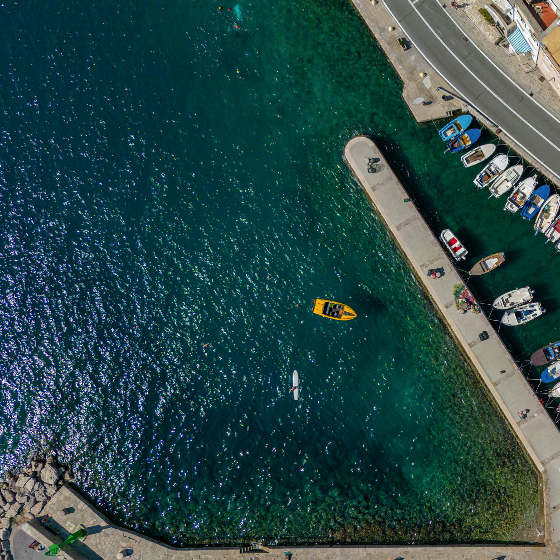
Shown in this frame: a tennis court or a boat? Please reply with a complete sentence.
I can see a boat in this picture.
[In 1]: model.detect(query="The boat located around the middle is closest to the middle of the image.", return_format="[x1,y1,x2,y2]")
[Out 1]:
[311,299,357,322]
